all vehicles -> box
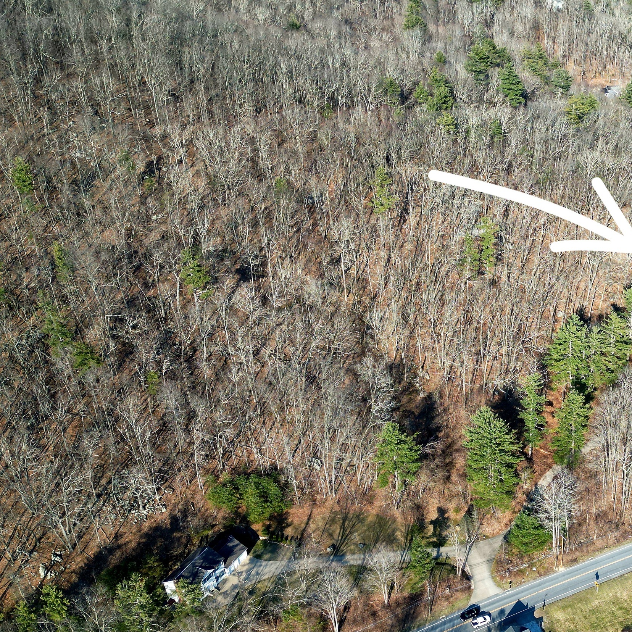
[455,605,476,619]
[468,611,492,627]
